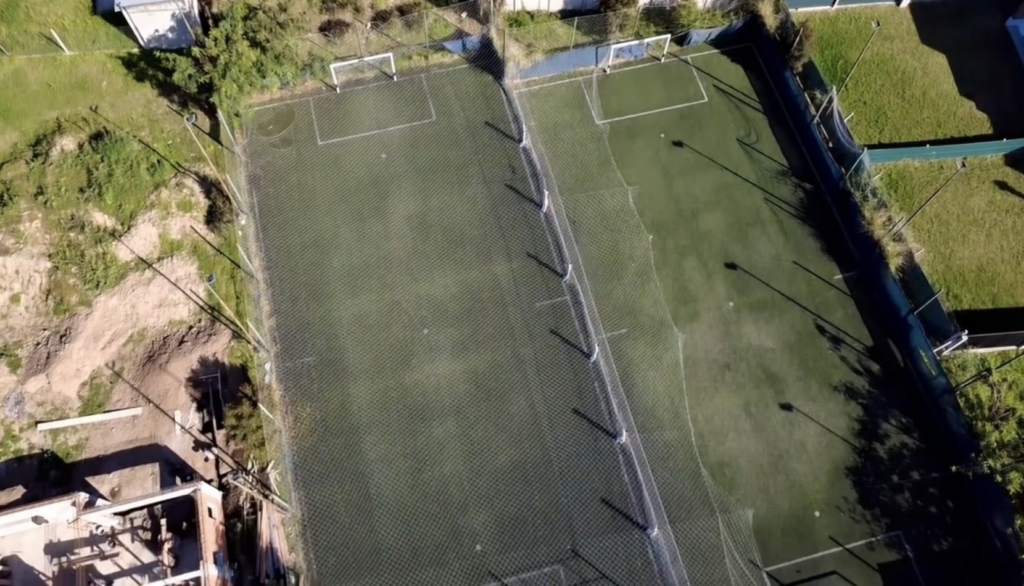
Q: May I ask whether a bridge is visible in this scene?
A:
No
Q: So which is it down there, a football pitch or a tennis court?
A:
football pitch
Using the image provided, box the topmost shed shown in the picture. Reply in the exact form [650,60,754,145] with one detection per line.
[112,0,197,50]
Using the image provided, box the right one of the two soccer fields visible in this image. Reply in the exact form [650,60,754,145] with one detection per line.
[502,41,1023,586]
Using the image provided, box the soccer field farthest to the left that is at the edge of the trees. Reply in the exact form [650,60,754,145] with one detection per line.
[240,59,659,586]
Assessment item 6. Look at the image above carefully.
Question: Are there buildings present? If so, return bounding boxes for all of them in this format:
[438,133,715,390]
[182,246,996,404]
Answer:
[112,0,197,50]
[0,480,236,586]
